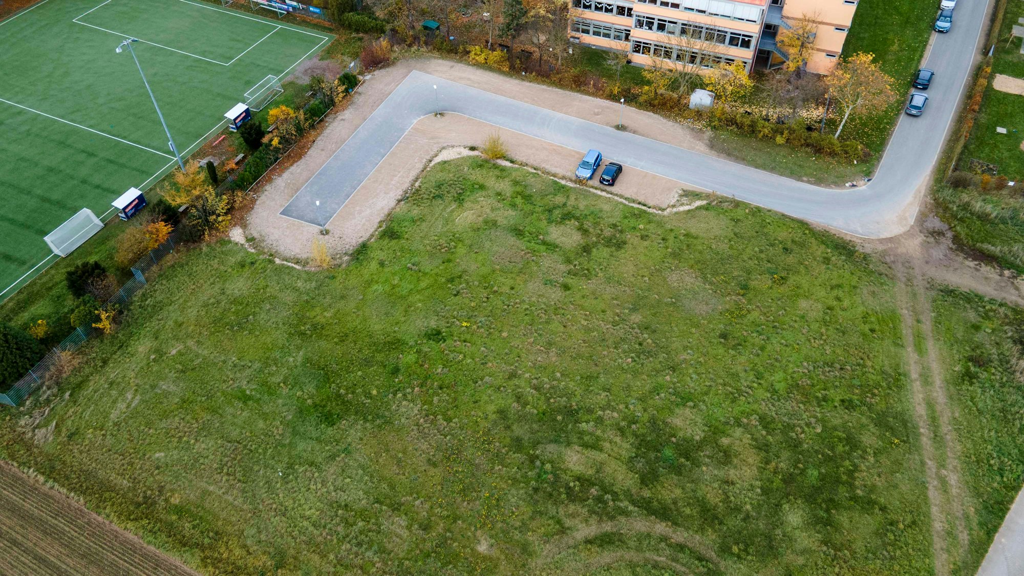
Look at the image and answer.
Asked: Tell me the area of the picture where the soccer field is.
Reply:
top left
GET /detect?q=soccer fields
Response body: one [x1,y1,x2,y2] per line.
[0,0,343,307]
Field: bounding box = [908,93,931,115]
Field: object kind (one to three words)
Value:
car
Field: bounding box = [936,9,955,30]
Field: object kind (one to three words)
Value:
car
